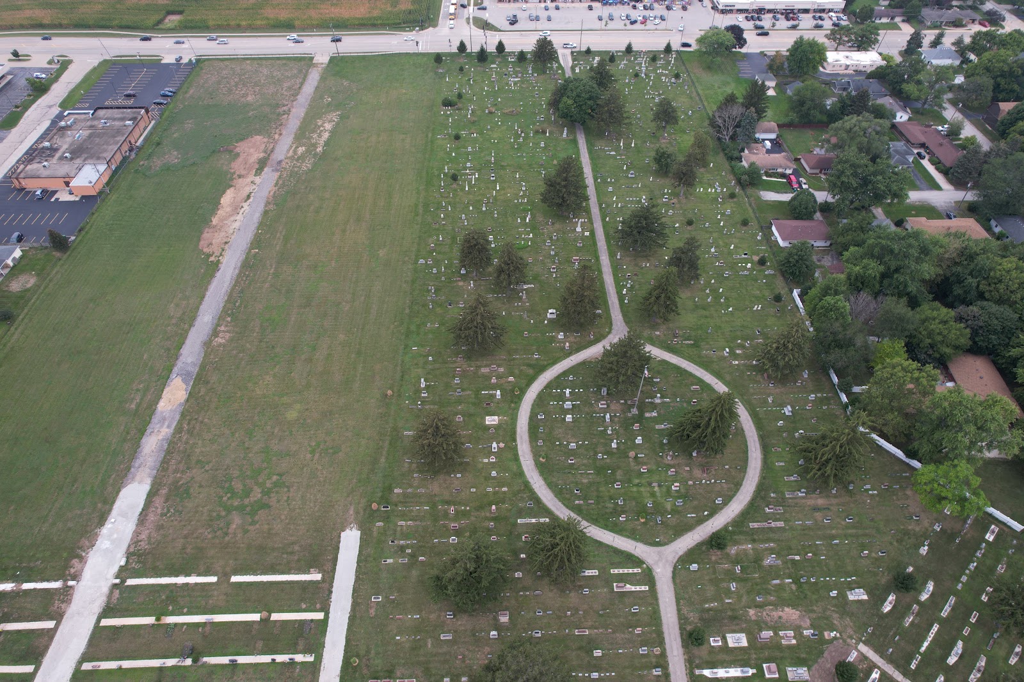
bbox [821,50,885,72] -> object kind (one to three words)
building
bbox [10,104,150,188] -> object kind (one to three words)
building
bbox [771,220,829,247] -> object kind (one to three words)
house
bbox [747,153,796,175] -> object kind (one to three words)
house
